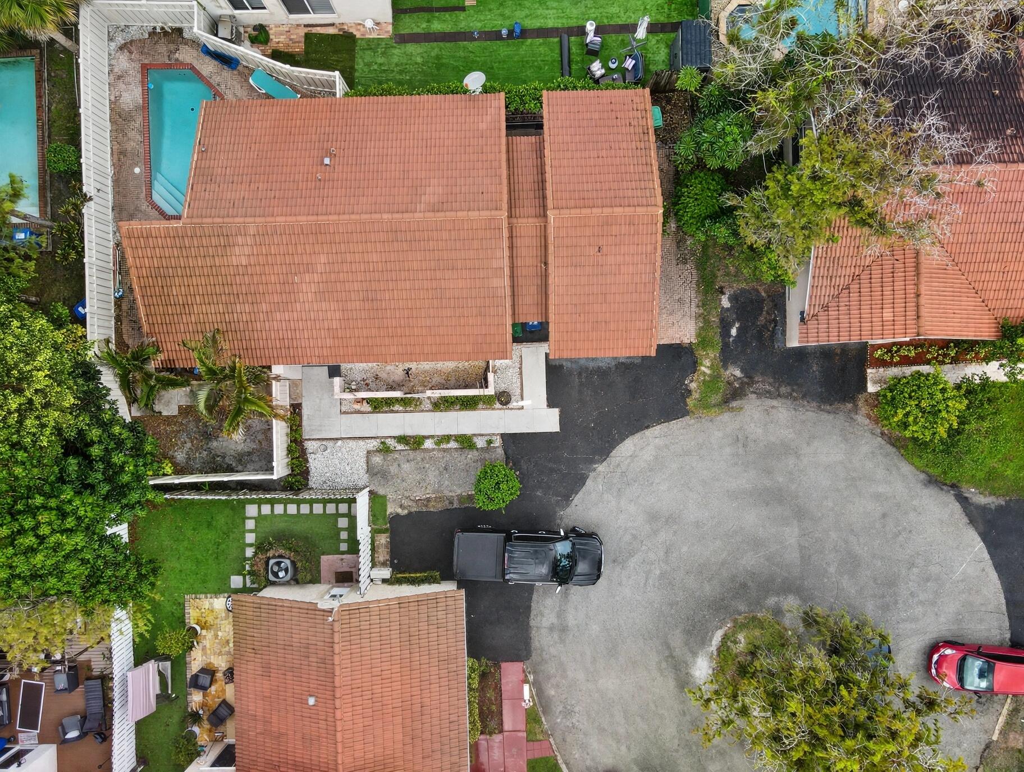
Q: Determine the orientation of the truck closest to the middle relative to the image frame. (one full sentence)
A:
The truck closest to the middle has been laid out from left to right relative to the frame.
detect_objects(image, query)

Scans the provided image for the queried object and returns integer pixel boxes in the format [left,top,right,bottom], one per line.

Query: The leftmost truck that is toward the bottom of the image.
[452,523,607,596]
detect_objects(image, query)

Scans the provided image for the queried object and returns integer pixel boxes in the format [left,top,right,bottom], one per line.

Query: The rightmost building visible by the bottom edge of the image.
[175,581,466,772]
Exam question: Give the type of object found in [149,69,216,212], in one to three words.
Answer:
swimming pool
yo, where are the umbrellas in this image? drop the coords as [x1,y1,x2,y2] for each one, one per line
[622,16,648,50]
